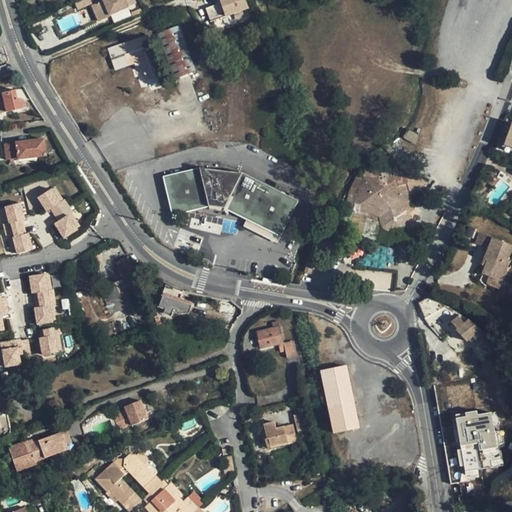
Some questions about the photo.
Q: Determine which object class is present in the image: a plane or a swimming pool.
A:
swimming pool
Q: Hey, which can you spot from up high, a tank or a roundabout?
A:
roundabout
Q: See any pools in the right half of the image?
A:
Yes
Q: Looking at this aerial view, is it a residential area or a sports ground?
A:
residential area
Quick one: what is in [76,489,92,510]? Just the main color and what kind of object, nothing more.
blue swimming pool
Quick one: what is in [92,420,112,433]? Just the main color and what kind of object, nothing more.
green swimming pool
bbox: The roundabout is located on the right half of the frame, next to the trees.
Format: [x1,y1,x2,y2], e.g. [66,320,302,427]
[354,296,413,354]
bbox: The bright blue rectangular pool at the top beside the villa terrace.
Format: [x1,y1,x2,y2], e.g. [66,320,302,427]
[56,12,78,33]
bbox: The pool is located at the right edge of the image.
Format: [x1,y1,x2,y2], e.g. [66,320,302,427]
[488,181,510,205]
